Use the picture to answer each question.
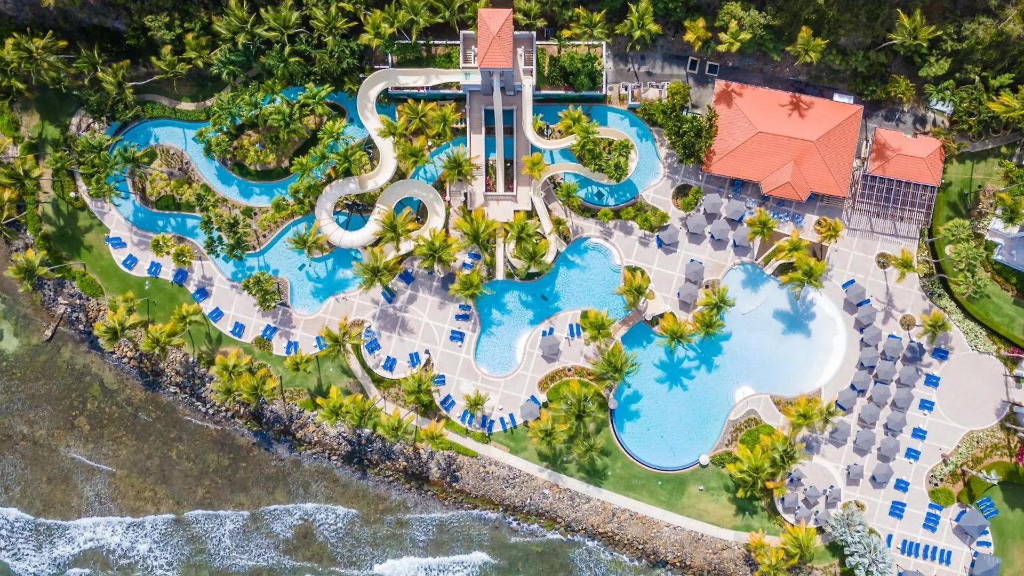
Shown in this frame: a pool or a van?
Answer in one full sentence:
The image shows a pool.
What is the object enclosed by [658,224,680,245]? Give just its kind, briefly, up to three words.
umbrella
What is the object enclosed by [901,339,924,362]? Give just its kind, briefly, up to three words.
umbrella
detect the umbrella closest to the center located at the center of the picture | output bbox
[539,334,562,357]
